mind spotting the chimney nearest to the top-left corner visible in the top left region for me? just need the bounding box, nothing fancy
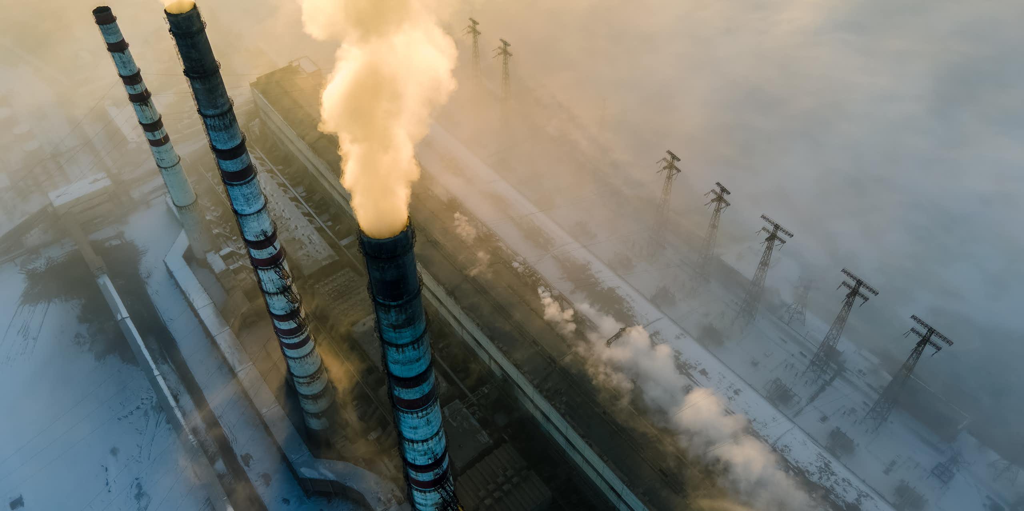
[93,5,217,257]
